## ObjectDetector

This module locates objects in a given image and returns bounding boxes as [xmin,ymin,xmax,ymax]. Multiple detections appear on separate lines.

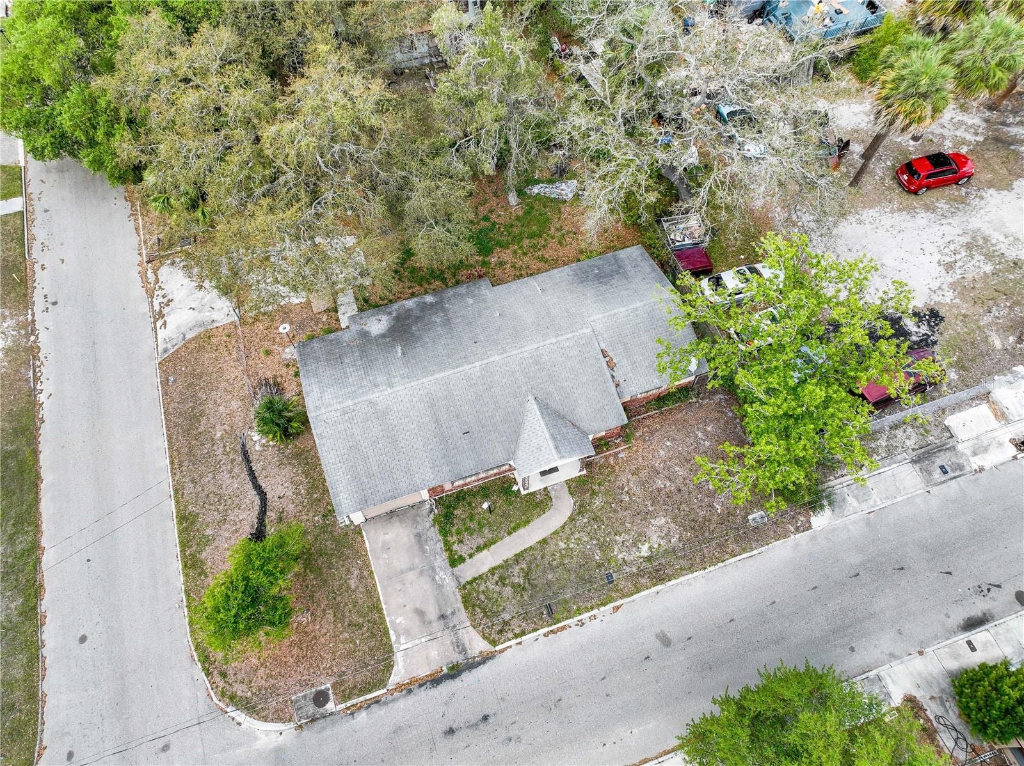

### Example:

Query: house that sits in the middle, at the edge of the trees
[296,247,707,527]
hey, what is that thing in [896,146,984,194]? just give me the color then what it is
red car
